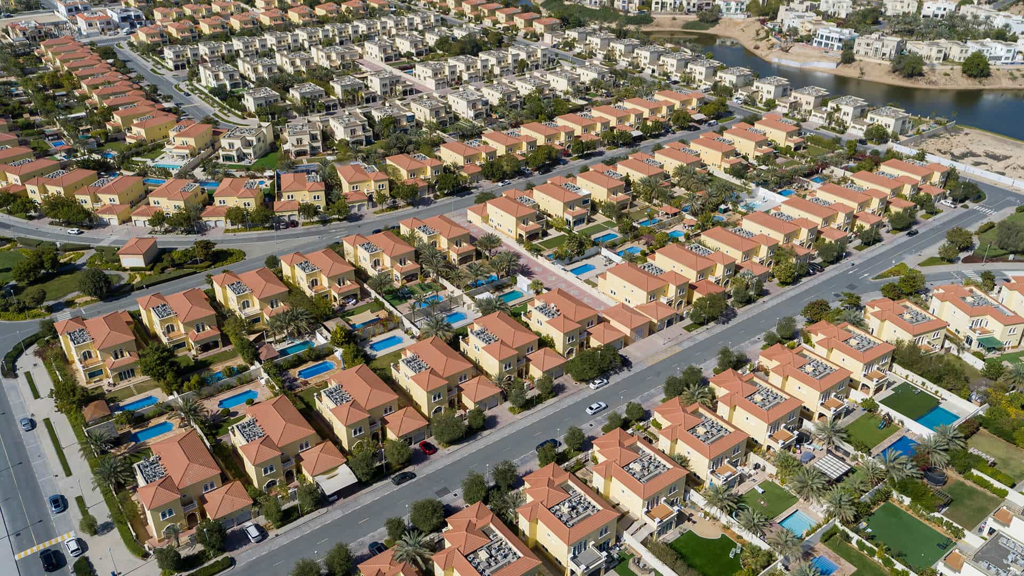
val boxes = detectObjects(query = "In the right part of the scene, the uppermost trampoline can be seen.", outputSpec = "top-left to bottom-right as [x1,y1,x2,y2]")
[792,425,816,447]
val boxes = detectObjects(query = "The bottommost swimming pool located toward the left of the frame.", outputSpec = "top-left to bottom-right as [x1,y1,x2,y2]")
[126,419,178,445]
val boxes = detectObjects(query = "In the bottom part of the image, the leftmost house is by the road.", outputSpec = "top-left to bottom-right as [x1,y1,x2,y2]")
[54,314,136,385]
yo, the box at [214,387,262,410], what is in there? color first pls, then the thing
blue swimming pool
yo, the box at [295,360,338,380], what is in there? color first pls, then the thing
blue swimming pool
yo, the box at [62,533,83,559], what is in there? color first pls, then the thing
white car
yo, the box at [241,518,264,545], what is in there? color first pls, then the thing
white car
